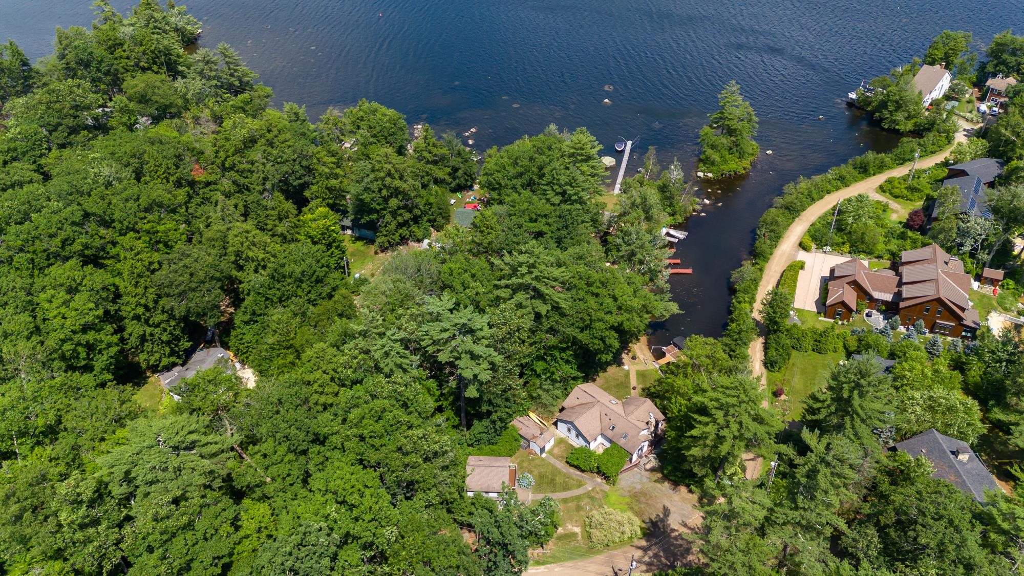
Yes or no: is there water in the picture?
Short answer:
Yes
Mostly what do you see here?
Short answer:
trees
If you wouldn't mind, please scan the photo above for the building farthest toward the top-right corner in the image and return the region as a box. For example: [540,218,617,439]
[976,75,1024,109]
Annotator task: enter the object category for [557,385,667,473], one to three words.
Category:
house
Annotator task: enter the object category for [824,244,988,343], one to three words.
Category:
house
